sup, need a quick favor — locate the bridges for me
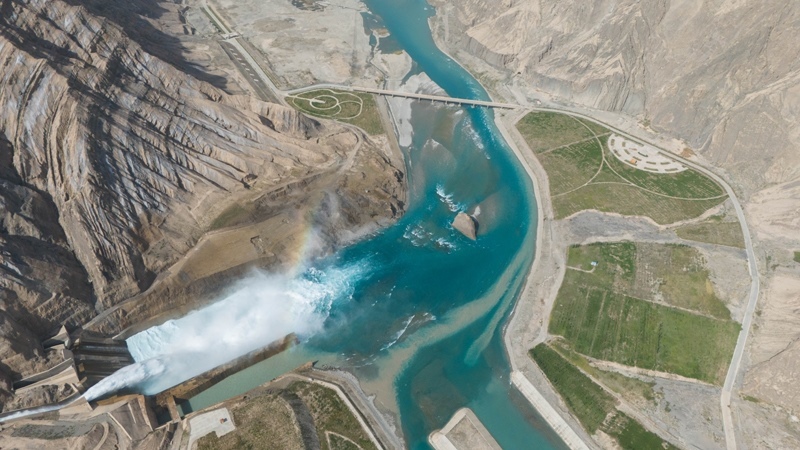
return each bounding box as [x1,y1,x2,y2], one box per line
[373,89,521,112]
